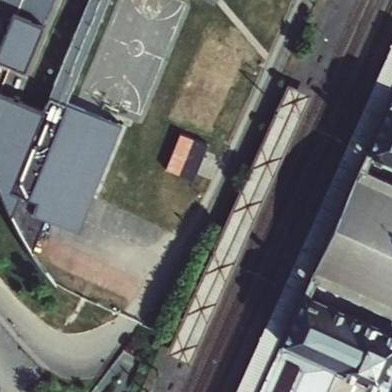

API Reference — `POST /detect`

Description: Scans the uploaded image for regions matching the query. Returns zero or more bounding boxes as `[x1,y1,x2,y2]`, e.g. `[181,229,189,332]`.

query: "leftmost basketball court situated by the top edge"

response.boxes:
[80,0,195,132]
